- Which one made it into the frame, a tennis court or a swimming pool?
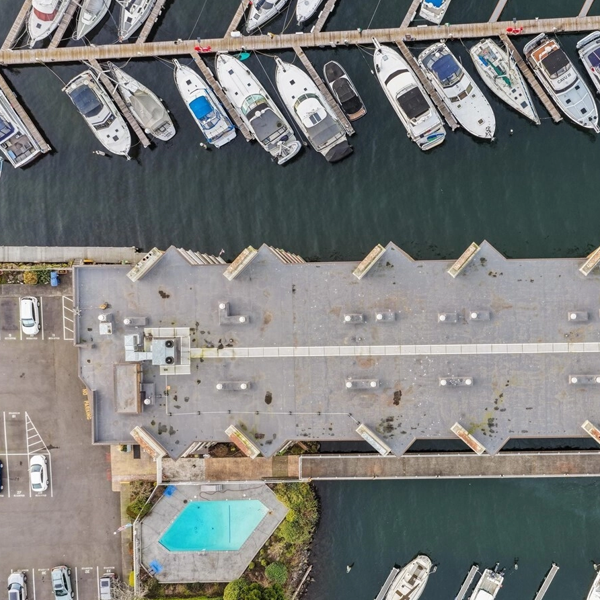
swimming pool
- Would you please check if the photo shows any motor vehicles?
Yes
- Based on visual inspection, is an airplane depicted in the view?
No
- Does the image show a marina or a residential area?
marina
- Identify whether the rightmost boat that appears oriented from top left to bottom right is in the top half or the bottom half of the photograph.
top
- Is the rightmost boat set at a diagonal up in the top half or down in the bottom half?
top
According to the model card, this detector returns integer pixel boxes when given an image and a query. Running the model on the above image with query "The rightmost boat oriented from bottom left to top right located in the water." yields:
[574,30,600,50]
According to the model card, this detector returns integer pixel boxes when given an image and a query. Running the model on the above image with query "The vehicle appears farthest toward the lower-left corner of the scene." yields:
[6,573,28,600]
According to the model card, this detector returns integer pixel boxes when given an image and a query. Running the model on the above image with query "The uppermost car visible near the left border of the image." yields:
[18,297,39,333]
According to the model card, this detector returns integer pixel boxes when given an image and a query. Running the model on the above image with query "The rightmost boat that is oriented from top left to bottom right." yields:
[522,38,599,133]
